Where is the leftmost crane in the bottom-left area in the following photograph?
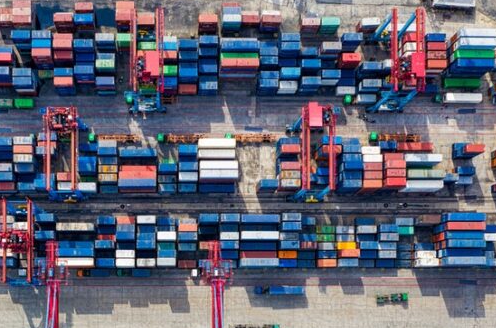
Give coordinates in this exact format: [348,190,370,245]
[0,194,51,291]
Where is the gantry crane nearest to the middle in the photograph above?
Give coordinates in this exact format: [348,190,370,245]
[284,98,338,206]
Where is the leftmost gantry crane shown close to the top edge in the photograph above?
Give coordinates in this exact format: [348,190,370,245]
[125,7,168,115]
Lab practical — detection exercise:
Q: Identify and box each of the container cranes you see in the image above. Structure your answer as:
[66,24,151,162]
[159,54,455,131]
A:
[201,242,235,328]
[284,98,338,206]
[365,5,428,115]
[125,7,168,115]
[0,194,51,291]
[36,242,71,328]
[40,104,87,206]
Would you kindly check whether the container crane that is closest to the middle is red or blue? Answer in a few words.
red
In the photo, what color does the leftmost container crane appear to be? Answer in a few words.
red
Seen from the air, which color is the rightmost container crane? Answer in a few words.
red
